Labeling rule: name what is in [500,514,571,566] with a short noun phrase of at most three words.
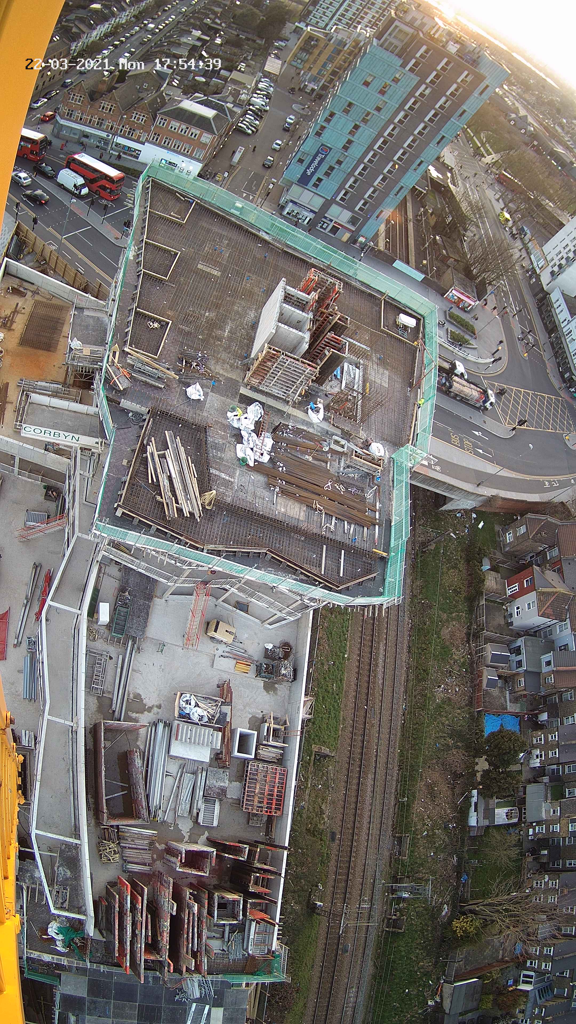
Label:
house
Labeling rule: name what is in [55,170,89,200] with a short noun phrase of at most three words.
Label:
van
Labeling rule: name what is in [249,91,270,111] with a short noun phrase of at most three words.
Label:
vehicle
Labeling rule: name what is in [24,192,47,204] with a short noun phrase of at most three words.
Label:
vehicle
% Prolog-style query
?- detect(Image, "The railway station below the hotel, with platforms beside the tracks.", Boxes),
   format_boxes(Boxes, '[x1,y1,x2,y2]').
[406,186,433,275]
